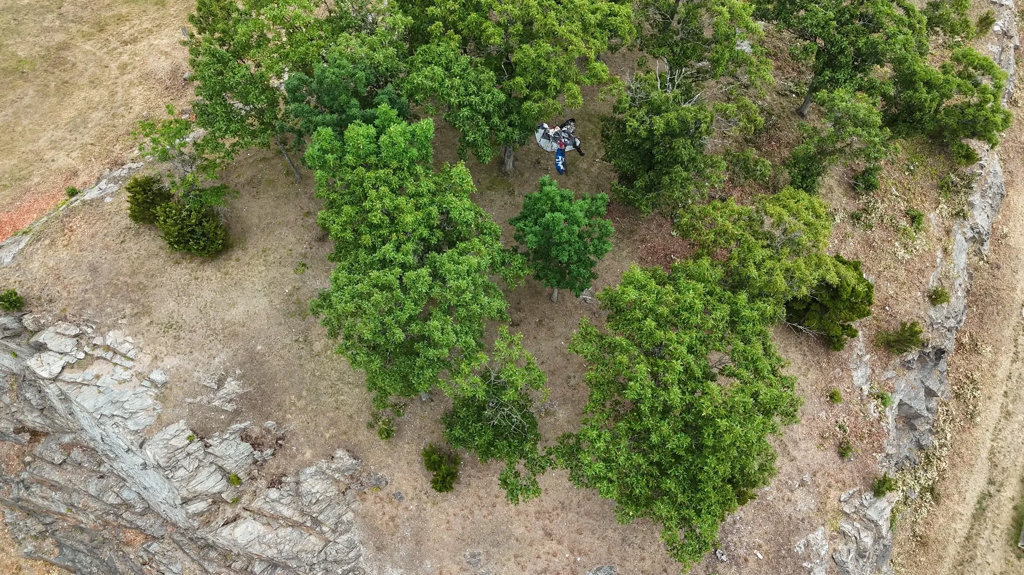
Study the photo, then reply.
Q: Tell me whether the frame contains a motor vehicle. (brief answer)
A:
No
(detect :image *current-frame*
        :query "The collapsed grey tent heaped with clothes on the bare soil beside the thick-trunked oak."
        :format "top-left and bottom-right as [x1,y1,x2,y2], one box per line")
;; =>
[535,124,580,151]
